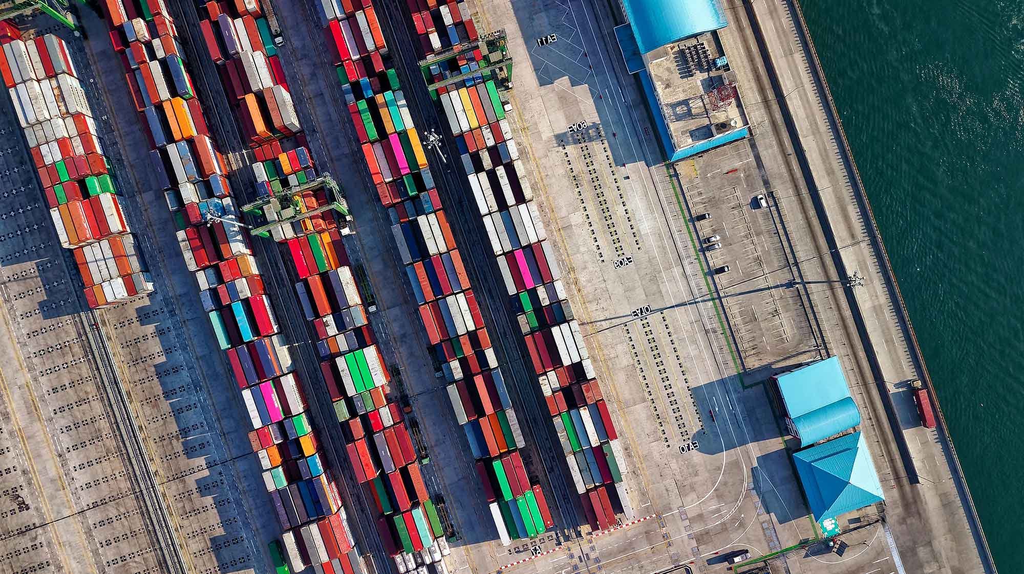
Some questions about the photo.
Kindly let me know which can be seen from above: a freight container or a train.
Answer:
freight container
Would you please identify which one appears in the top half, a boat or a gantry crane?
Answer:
gantry crane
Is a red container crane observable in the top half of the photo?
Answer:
No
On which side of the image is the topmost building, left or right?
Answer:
right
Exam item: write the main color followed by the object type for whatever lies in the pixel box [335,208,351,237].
white vehicle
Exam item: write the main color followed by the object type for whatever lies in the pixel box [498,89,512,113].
white vehicle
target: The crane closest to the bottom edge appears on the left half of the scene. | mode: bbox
[237,175,352,248]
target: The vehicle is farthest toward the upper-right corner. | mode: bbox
[755,193,767,210]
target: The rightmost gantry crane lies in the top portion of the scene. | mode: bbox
[414,25,517,116]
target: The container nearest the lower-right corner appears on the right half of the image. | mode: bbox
[912,388,938,429]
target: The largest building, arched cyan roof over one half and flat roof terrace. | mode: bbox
[613,0,751,167]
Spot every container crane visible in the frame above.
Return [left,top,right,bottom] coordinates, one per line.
[0,0,86,40]
[237,175,352,248]
[414,25,517,116]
